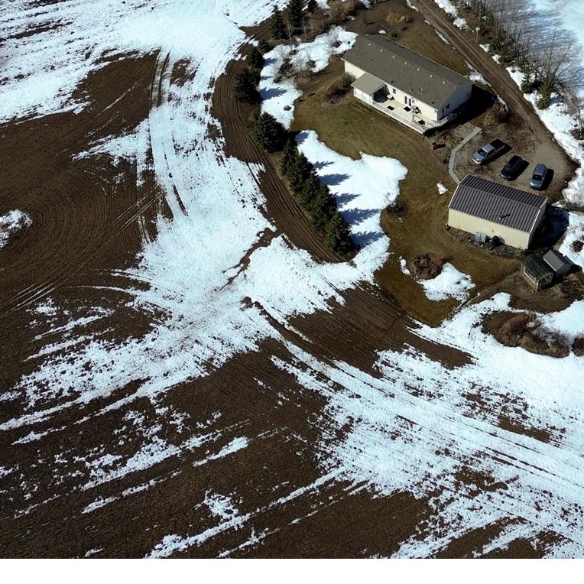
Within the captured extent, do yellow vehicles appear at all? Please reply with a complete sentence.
No, I can't see a single yellow vehicle in this photo.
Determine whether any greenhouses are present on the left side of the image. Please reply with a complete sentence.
No, no greenhouse can be made out on the left side of the image.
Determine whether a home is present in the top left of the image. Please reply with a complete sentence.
No, the scene shows no home in the top left of the image.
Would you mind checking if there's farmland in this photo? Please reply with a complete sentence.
Yes, there is farmland in the image.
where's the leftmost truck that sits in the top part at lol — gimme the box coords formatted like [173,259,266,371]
[469,136,510,166]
